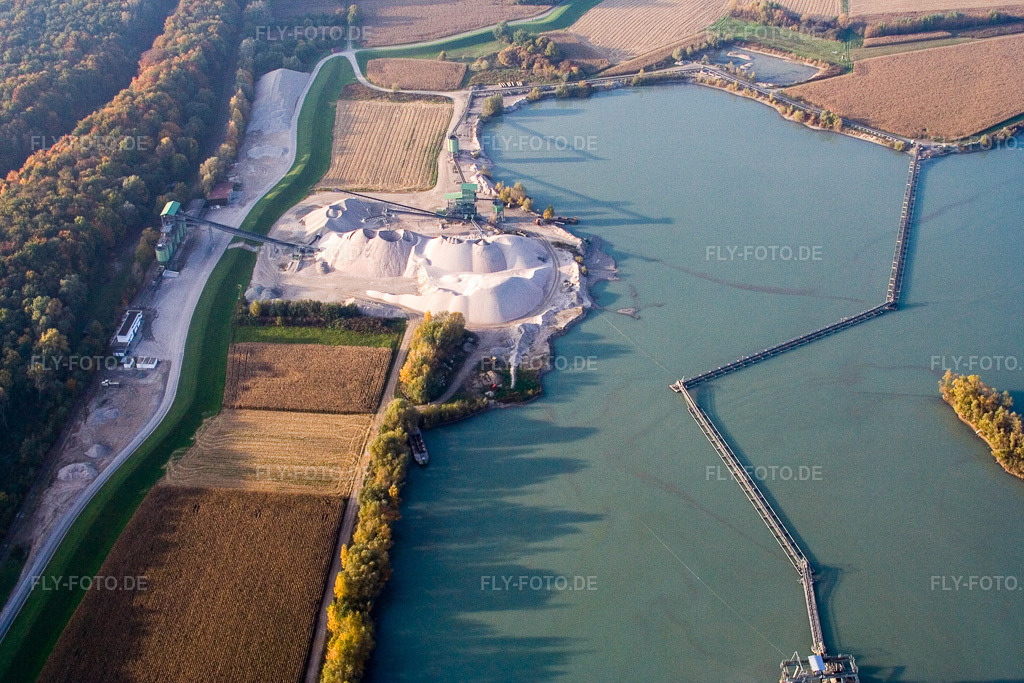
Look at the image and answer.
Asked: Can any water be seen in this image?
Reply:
Yes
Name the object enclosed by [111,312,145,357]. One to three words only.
building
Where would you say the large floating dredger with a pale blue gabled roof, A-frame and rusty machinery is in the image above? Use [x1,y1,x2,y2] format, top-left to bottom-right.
[778,642,866,683]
